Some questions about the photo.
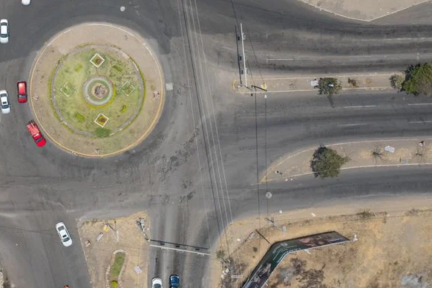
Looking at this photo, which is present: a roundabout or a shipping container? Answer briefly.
roundabout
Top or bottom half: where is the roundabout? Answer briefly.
top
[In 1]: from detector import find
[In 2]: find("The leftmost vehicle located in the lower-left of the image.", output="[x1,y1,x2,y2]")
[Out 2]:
[56,221,72,246]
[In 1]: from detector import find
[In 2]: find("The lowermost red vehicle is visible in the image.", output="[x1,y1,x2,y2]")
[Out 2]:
[27,119,45,147]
